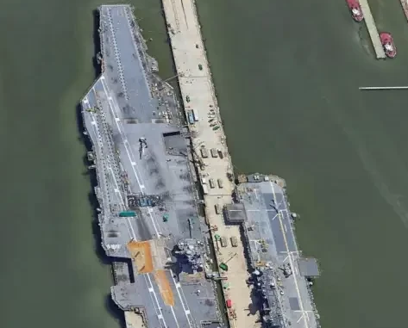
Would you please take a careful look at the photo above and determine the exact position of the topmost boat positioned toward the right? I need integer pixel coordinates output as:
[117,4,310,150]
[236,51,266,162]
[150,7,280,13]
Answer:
[344,0,364,22]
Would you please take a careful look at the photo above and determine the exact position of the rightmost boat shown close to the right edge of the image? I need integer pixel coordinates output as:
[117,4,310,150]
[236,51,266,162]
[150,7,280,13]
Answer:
[379,31,397,58]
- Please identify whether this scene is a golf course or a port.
port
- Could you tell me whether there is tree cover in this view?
No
